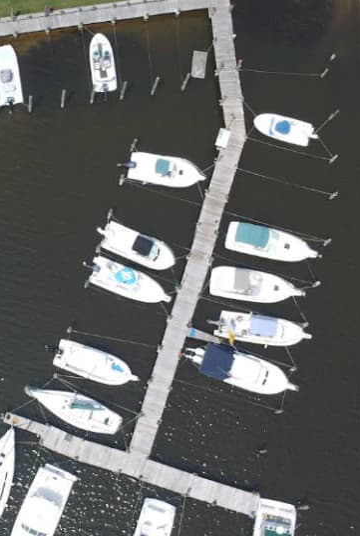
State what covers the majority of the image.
water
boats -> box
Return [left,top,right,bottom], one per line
[45,339,139,383]
[220,222,317,261]
[25,388,122,436]
[11,454,84,536]
[254,115,320,144]
[96,221,177,268]
[181,340,300,394]
[83,257,171,300]
[203,309,312,349]
[0,46,23,115]
[117,153,206,186]
[0,429,15,516]
[209,268,302,303]
[90,33,116,102]
[250,497,299,536]
[131,496,177,536]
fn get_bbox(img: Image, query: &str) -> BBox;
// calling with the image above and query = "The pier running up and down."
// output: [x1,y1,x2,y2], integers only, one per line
[131,0,248,452]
